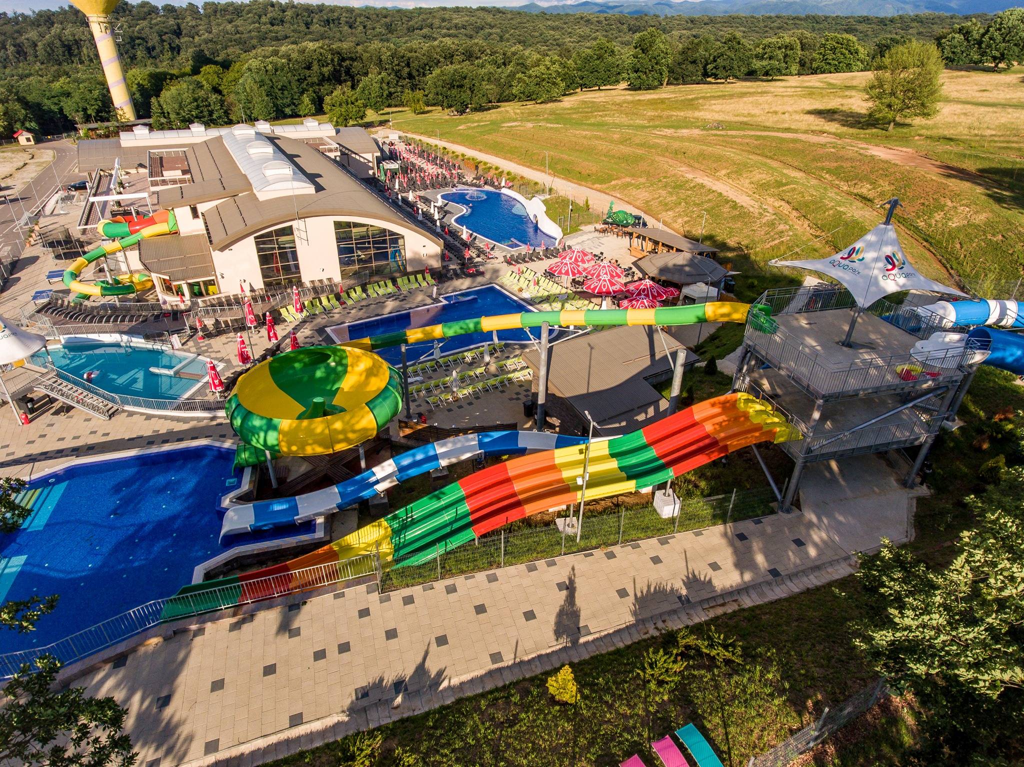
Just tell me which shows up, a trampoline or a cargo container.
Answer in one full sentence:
The one in the frame is a trampoline.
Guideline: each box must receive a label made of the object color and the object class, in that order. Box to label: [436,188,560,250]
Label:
blue swimming pool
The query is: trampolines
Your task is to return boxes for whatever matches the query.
[41,232,90,265]
[30,221,79,251]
